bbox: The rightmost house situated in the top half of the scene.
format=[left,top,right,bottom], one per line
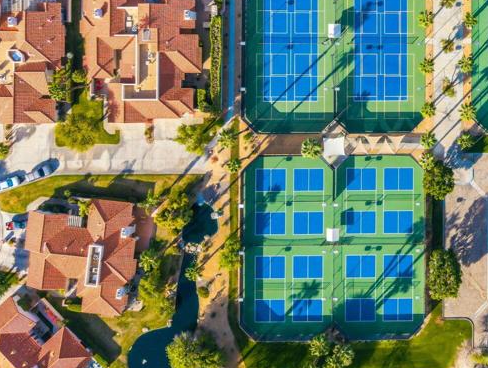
[81,0,206,124]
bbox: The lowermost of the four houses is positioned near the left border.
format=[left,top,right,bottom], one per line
[0,295,94,368]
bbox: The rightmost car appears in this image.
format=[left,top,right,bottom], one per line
[27,163,53,179]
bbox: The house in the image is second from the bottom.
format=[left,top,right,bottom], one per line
[26,199,142,317]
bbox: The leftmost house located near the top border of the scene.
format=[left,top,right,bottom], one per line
[0,0,71,125]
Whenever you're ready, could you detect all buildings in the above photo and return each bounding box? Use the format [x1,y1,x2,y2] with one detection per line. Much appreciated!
[81,0,206,124]
[0,0,71,125]
[0,295,94,368]
[26,199,142,317]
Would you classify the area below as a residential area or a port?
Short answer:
residential area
